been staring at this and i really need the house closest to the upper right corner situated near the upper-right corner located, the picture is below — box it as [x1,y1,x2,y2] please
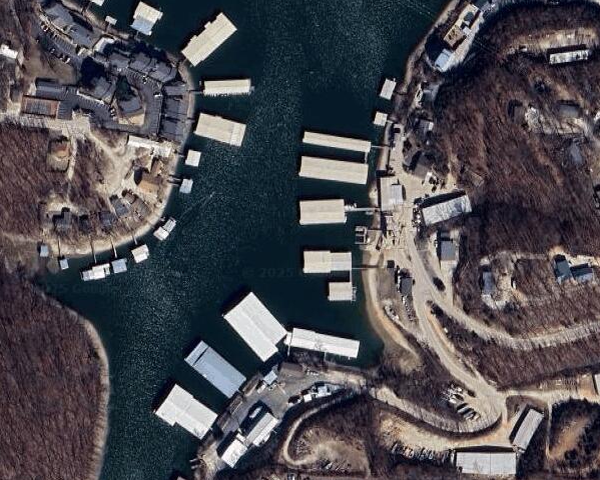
[550,50,589,63]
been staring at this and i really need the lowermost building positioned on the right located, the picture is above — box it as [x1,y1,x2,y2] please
[458,452,517,475]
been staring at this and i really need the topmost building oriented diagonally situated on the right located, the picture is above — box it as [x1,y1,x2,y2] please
[444,4,478,47]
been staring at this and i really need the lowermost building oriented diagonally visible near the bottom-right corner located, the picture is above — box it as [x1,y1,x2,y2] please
[513,411,544,449]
